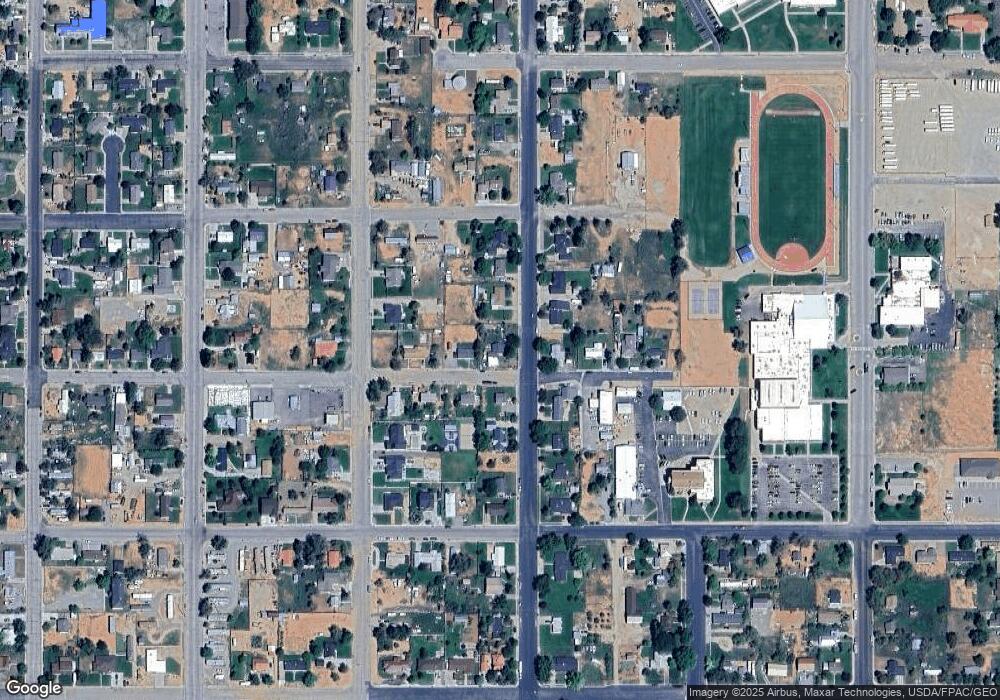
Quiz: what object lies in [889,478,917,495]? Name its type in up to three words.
building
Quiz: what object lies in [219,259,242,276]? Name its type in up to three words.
house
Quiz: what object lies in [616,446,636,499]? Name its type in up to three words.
building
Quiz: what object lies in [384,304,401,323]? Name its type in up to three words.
house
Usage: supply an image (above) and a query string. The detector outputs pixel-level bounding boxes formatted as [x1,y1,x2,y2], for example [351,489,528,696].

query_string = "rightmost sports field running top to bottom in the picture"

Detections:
[760,94,825,259]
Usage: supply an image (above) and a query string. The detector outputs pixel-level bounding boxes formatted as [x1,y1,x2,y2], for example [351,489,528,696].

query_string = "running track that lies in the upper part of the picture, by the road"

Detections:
[750,85,835,272]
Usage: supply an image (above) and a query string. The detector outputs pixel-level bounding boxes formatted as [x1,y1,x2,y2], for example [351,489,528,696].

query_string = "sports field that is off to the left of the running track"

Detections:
[681,76,750,266]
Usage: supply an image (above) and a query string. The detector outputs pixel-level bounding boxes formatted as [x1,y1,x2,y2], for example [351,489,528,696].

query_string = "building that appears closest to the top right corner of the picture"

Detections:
[948,14,988,31]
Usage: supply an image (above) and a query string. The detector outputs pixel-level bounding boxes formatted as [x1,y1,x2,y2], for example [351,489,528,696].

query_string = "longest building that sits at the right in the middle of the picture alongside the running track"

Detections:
[751,294,835,440]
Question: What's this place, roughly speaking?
residential area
